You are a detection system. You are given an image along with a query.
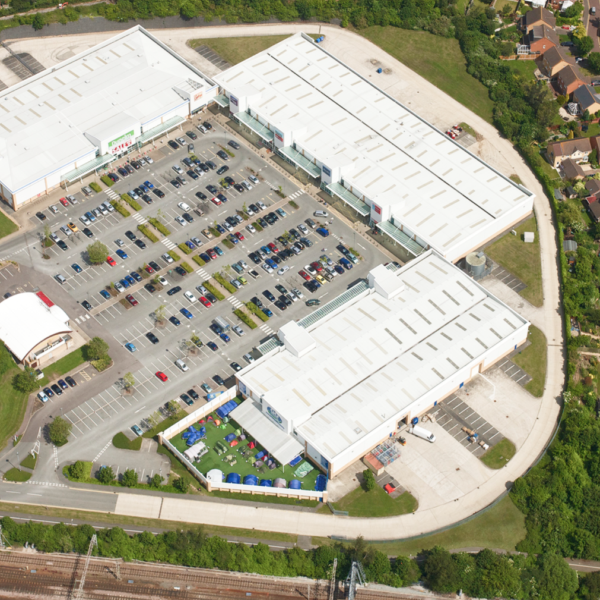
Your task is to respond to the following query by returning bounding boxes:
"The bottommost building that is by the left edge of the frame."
[0,290,73,367]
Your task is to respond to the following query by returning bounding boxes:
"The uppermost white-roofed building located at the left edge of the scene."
[0,24,219,210]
